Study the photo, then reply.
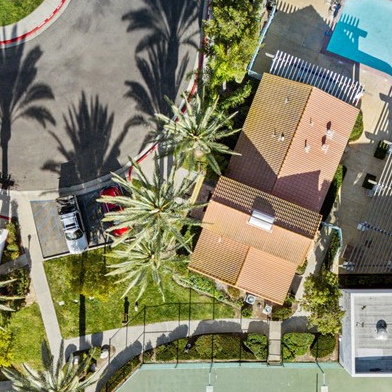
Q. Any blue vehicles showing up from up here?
No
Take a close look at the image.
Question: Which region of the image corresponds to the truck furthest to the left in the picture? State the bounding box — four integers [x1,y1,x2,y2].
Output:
[50,190,92,257]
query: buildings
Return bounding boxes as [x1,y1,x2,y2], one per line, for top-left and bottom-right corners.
[339,288,392,376]
[188,73,359,301]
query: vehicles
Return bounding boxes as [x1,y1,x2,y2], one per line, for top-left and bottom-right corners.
[99,184,136,240]
[50,190,92,257]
